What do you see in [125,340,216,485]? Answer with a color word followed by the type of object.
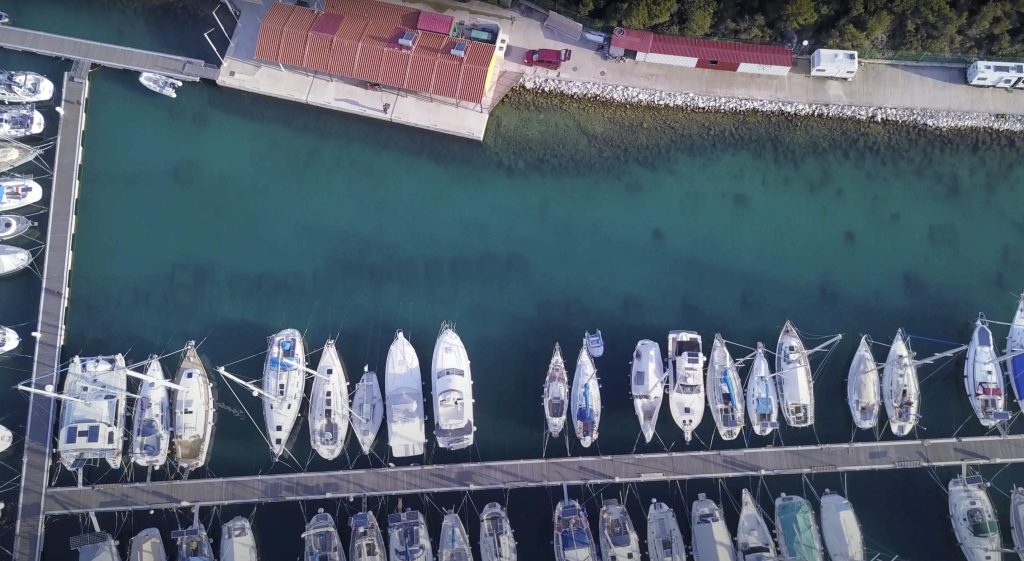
white boat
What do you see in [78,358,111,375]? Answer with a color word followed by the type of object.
white boat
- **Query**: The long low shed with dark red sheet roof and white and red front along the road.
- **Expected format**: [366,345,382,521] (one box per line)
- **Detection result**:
[608,27,793,77]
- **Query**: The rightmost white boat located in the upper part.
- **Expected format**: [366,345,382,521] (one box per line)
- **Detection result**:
[138,71,186,101]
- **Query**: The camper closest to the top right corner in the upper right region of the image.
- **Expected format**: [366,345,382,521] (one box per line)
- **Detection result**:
[963,58,1024,96]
